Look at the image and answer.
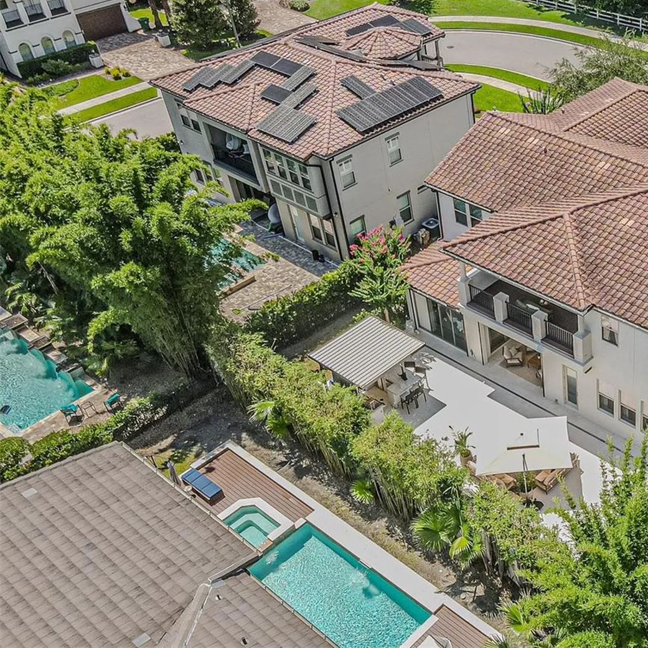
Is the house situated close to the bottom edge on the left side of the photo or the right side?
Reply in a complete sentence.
The house situated close to the bottom edge sits on the left side.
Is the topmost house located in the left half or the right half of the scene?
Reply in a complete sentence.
It is on the left.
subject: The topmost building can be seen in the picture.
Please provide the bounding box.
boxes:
[0,0,141,78]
